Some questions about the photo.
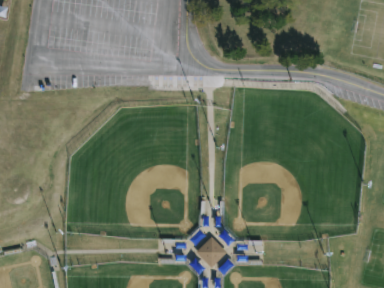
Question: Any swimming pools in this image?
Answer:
No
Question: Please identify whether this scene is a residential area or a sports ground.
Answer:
sports ground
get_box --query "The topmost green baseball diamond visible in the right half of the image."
[224,90,366,240]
